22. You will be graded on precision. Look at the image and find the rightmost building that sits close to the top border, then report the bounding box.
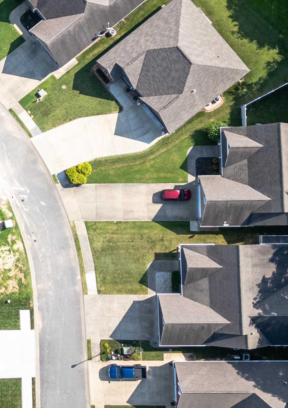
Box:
[96,0,250,135]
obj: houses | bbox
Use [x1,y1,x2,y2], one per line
[154,245,288,353]
[171,358,288,408]
[20,0,146,68]
[195,124,288,228]
[96,0,250,135]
